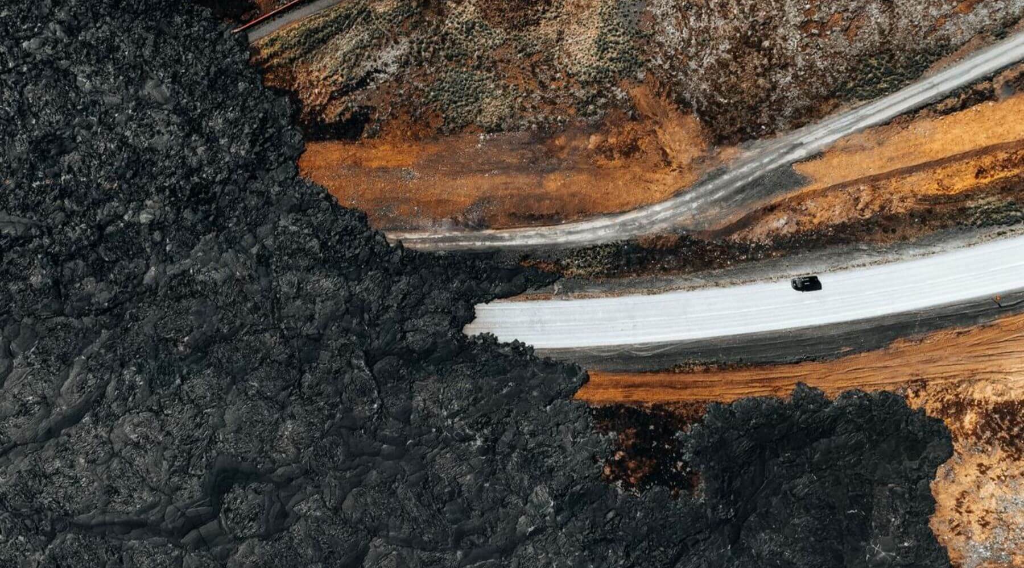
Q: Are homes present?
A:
No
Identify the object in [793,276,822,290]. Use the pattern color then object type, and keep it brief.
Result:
black car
